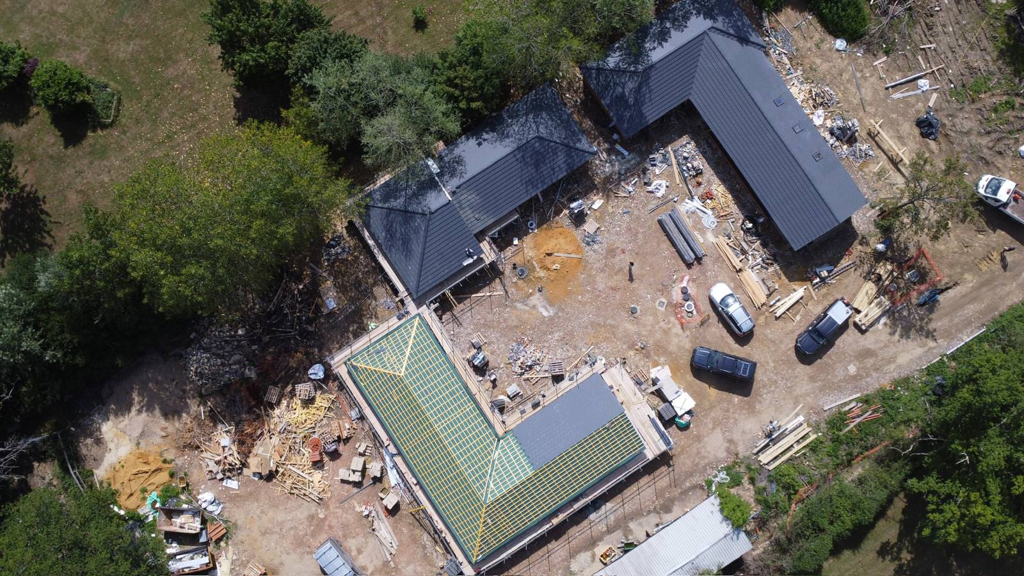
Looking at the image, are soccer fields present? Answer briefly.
No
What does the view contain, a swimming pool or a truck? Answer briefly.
truck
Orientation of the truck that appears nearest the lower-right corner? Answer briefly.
at an angle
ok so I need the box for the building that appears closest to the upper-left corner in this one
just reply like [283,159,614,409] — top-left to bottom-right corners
[364,84,596,300]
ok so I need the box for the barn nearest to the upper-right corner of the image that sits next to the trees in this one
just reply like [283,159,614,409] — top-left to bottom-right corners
[579,0,868,250]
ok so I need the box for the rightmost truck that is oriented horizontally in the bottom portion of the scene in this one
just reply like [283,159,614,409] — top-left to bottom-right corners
[688,348,759,384]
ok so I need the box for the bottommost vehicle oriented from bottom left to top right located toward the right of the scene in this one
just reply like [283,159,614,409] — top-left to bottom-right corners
[794,295,858,353]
